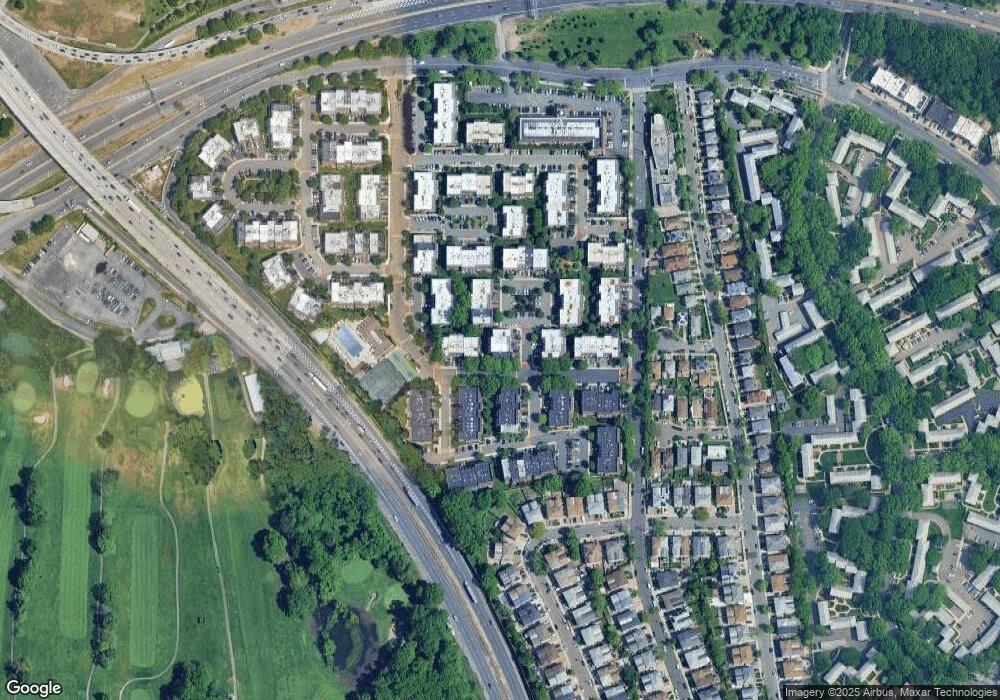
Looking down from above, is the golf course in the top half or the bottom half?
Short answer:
bottom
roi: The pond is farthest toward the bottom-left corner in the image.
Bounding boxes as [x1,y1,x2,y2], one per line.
[317,605,368,671]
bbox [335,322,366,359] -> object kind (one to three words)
swimming pool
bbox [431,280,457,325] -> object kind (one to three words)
building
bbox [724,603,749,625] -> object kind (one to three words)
house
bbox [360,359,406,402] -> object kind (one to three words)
sports court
